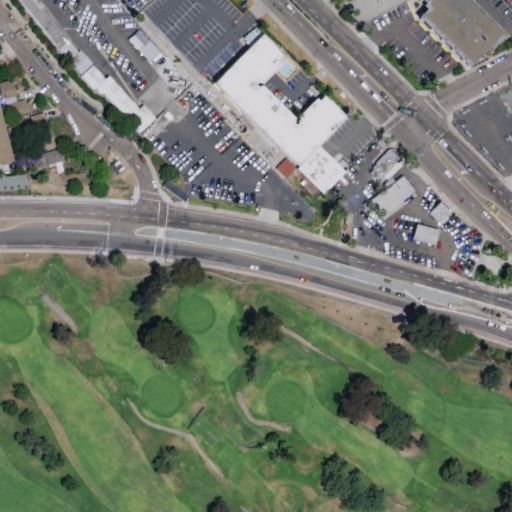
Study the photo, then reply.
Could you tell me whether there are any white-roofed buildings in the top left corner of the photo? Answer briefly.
Yes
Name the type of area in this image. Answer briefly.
golf course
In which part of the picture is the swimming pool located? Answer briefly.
top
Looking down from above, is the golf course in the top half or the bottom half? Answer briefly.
bottom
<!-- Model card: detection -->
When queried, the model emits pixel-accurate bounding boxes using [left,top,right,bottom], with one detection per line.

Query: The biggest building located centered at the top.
[216,34,350,167]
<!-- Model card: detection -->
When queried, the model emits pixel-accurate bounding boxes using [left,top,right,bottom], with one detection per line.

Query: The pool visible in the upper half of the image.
[277,58,299,81]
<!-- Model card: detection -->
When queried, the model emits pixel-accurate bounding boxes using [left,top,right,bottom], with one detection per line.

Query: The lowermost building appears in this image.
[414,224,441,246]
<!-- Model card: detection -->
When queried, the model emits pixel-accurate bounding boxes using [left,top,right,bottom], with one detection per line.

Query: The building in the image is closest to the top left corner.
[20,0,72,52]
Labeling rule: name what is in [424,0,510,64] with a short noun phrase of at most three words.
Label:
building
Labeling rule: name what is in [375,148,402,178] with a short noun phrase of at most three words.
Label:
building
